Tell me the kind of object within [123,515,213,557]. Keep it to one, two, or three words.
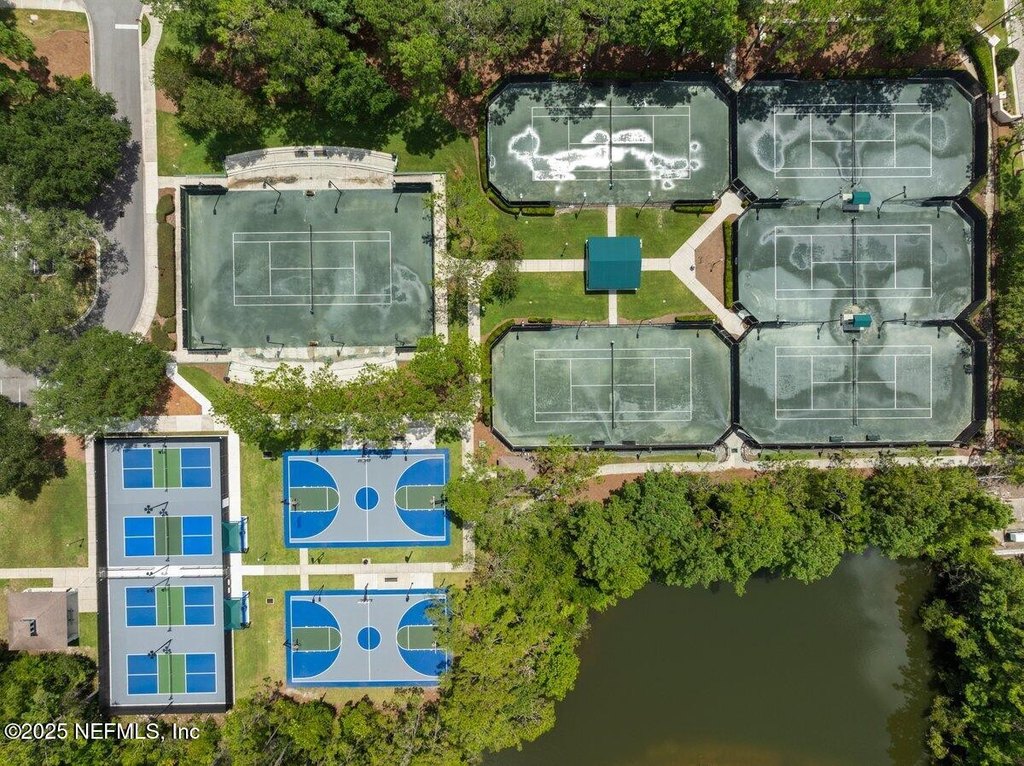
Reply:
sports court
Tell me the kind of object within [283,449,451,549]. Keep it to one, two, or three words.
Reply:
basketball court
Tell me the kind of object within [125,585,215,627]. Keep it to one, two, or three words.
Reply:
sports court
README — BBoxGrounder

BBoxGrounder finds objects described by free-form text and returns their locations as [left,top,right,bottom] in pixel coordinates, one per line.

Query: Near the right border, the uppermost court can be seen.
[729,79,974,204]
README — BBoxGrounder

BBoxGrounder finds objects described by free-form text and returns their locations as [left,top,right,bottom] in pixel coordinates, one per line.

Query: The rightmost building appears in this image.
[583,236,642,293]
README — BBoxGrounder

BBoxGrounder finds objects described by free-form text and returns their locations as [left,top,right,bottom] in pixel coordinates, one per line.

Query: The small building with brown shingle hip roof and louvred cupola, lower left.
[9,585,80,650]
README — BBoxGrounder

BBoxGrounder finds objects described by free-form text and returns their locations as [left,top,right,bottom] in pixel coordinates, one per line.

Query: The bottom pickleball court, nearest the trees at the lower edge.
[126,653,216,695]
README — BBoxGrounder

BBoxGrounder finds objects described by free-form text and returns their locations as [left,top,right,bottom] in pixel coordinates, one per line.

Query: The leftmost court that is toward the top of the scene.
[191,190,434,348]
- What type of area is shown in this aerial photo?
sports ground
